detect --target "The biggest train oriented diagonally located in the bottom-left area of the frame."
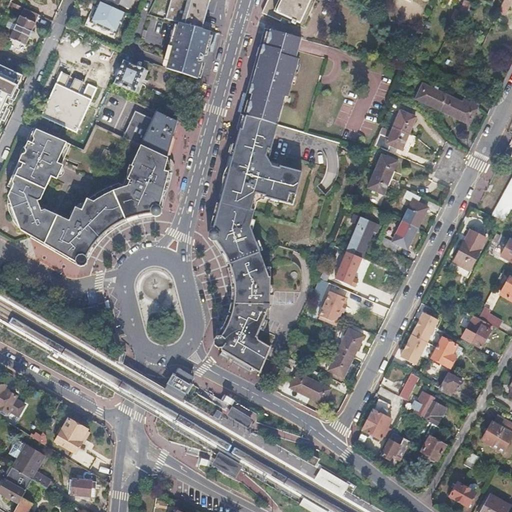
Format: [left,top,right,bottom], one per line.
[8,316,232,450]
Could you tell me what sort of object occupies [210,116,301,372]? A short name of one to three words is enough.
building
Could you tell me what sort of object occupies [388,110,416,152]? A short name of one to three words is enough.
house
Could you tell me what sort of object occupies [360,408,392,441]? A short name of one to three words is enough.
house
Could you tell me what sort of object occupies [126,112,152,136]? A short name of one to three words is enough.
building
